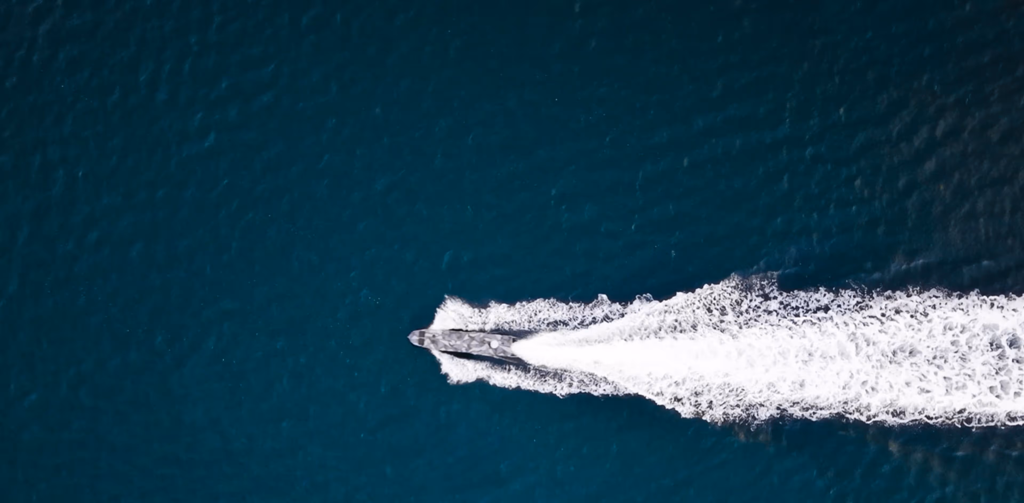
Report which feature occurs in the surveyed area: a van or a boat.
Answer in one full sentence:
Of the two, only a boat appears.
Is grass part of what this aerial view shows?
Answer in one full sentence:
No, the picture contains no grass.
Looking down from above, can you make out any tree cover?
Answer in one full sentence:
No, tree cover can't be seen anywhere here.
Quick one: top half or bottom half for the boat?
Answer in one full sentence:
The bottom half of the photo is where the boat is.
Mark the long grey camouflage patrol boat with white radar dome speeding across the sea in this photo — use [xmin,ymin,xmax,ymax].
[406,329,516,356]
